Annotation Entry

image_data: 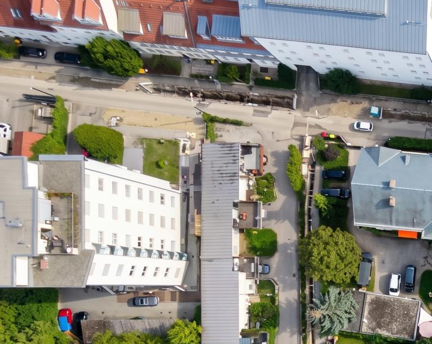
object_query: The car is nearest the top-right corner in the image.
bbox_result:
[353,119,375,132]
